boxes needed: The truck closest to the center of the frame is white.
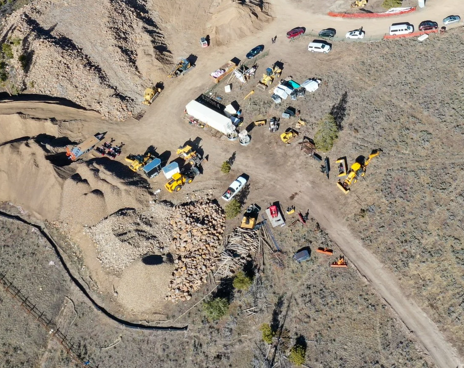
[222,174,248,197]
